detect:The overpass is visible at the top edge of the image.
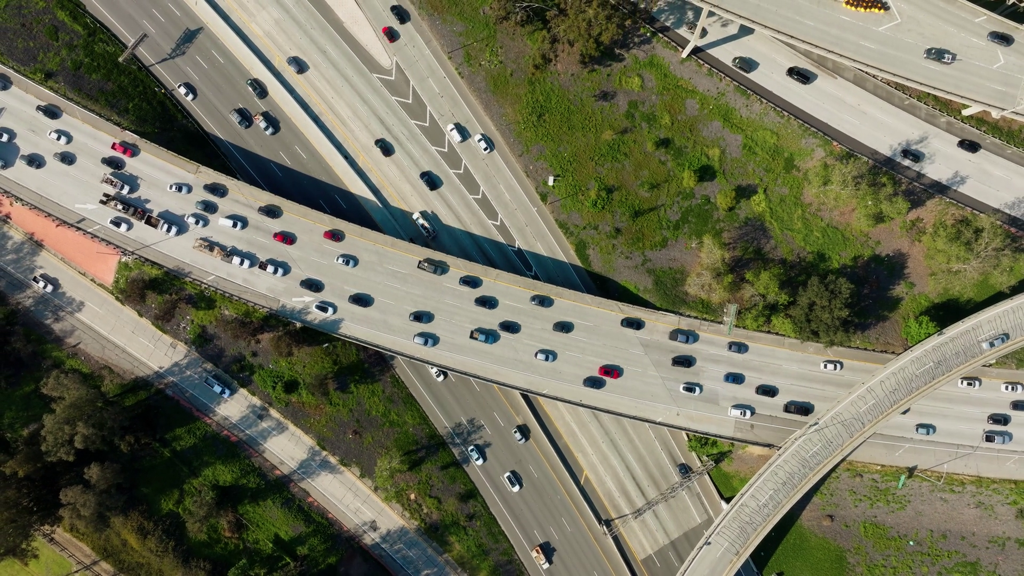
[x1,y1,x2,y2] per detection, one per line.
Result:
[680,0,1024,126]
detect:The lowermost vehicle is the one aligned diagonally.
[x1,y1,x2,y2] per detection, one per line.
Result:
[530,543,550,570]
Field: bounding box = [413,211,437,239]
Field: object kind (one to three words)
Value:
truck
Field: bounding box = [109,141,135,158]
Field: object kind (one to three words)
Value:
vehicle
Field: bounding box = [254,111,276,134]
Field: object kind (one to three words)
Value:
truck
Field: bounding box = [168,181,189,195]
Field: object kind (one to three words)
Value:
car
